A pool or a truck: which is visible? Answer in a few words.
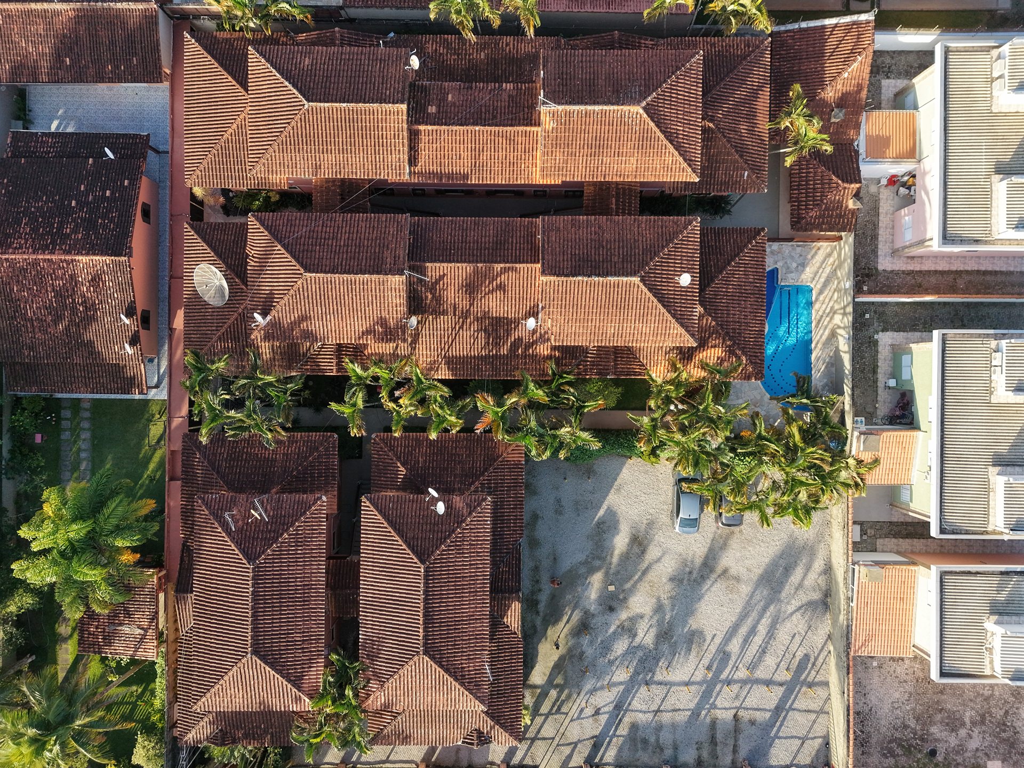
pool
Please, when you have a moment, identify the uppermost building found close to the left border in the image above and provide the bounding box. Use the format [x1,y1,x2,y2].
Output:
[0,3,166,87]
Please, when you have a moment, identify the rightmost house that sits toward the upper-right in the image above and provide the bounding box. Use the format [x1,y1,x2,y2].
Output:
[891,39,1024,255]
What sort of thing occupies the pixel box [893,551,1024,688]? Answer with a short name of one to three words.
house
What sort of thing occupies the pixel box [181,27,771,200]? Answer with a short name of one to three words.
building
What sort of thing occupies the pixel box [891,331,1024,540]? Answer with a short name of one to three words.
house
